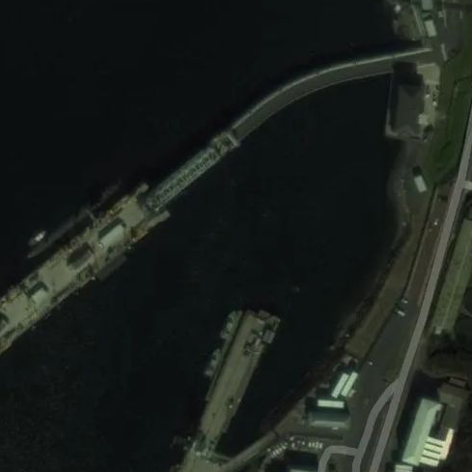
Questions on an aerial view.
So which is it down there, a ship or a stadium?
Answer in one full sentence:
Visible in the photo is a ship.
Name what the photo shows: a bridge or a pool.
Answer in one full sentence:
The image shows a bridge.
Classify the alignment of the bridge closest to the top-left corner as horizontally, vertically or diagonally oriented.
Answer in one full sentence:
I'd say the bridge closest to the top-left corner is aligned diagonally in the picture.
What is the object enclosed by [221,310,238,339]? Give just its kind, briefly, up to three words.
boat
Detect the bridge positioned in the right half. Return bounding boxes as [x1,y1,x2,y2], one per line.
[230,48,431,139]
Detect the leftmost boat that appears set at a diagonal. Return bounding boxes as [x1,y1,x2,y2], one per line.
[27,229,47,245]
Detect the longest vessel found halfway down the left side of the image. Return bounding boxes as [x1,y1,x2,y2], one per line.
[28,182,119,256]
